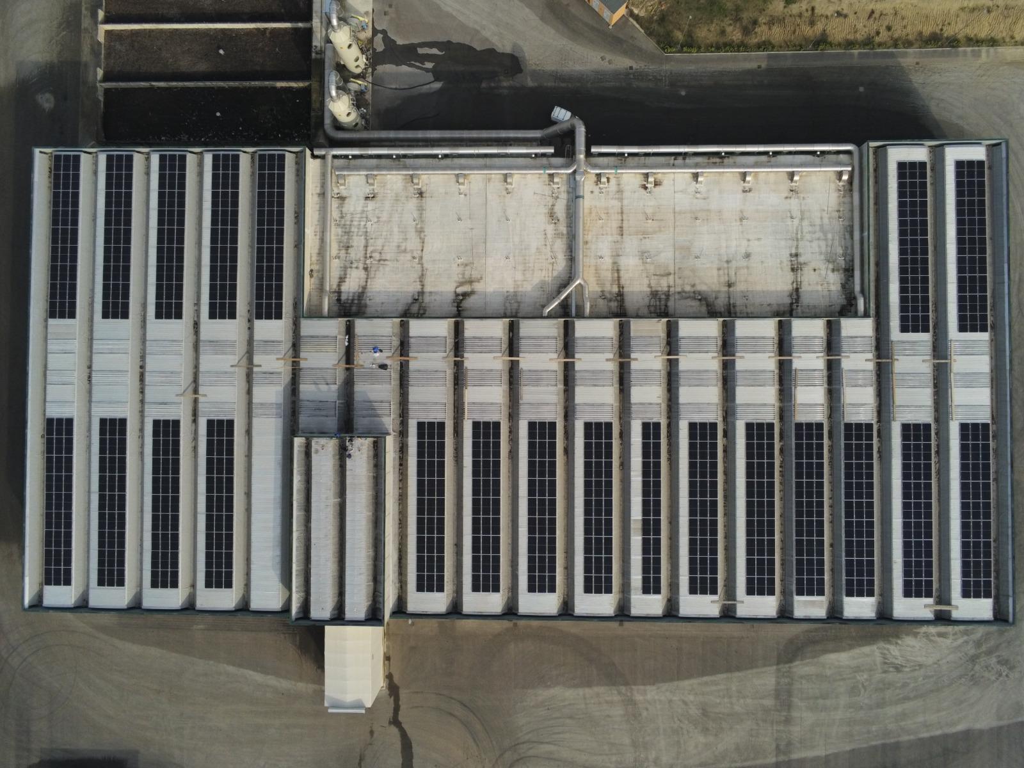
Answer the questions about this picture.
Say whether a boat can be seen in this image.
No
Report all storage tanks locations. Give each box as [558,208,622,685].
[331,4,368,72]
[331,66,368,127]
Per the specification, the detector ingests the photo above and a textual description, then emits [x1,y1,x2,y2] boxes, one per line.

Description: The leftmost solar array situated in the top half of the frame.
[48,154,77,318]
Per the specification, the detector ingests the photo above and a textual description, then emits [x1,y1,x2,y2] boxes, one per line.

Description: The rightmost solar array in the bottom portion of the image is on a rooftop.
[962,423,993,598]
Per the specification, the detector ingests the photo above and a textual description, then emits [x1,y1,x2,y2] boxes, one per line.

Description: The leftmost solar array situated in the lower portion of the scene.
[42,418,72,585]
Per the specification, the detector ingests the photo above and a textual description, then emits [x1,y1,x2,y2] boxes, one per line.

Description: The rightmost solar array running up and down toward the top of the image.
[959,160,990,332]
